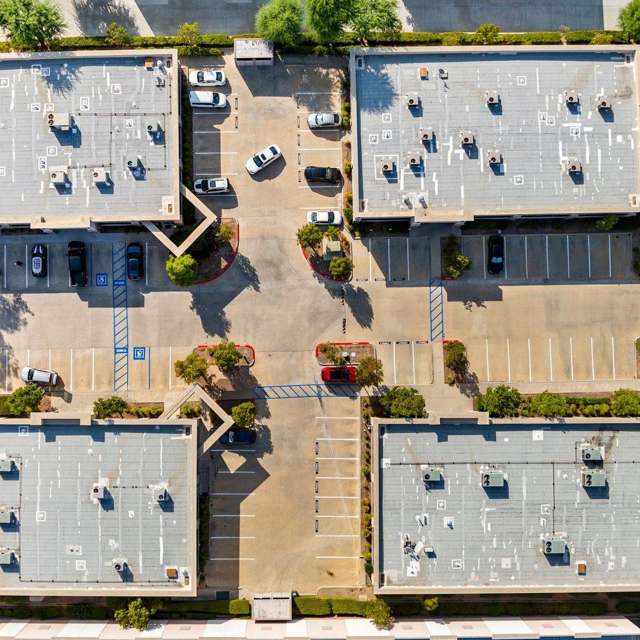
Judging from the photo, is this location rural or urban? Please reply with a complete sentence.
This place is urban.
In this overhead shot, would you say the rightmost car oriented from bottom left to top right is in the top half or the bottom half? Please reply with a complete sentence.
The rightmost car oriented from bottom left to top right sits in the top half of the picture.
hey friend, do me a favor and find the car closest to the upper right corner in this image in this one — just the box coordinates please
[487,236,504,272]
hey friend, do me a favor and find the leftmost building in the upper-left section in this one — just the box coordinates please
[0,49,217,256]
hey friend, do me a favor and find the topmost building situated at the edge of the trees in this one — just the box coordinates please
[234,38,273,67]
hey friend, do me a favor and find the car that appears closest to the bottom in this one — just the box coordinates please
[219,428,255,445]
